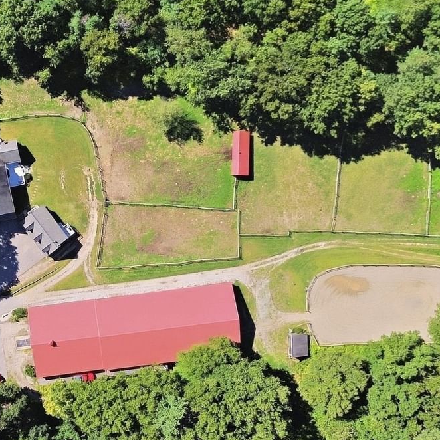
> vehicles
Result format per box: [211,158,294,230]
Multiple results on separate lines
[153,364,171,373]
[76,374,94,382]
